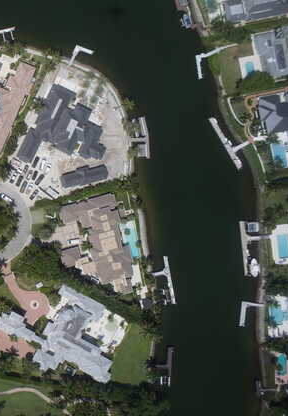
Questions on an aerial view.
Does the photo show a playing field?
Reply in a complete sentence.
No, the scene contains no playing field.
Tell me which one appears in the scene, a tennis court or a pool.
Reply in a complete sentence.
I can see a pool in this picture.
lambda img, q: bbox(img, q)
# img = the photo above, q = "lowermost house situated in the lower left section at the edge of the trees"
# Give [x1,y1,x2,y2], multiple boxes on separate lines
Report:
[0,284,114,383]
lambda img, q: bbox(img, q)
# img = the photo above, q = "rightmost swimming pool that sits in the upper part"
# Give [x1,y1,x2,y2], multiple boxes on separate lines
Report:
[271,143,288,168]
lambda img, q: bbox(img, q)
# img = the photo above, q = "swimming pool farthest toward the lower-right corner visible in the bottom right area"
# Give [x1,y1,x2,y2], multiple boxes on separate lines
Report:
[274,352,287,376]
